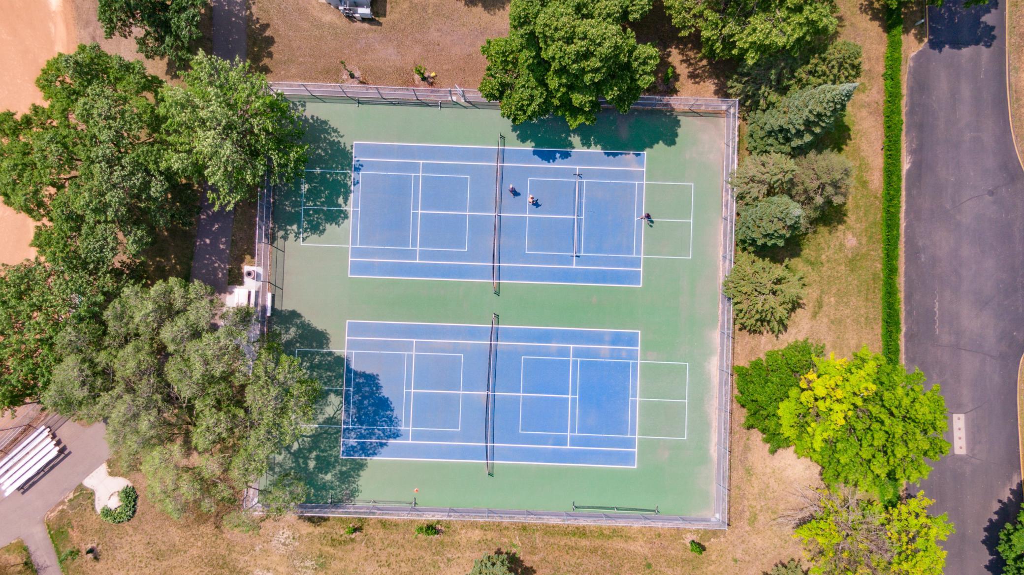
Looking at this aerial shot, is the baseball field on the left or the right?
left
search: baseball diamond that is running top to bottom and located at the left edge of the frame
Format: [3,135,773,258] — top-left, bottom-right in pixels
[0,0,75,437]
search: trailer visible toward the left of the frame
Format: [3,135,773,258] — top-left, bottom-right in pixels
[320,0,371,28]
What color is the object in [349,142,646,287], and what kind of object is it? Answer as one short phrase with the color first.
blue tennis court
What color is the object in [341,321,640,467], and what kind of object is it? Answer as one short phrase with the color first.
blue tennis court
